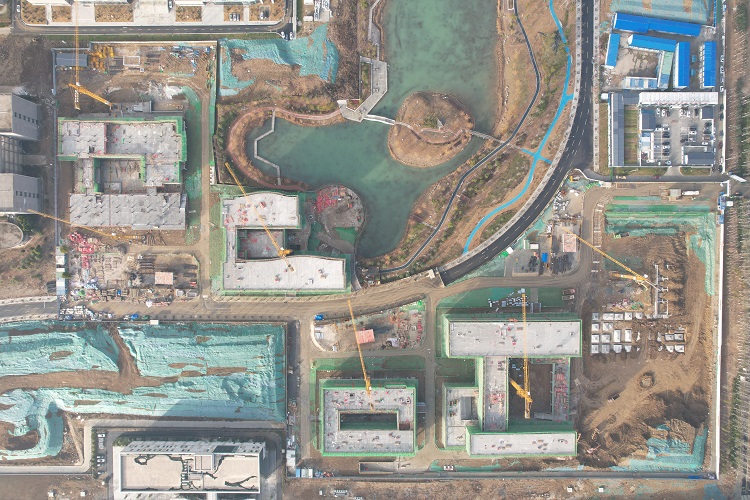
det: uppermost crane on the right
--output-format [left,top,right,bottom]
[578,235,662,291]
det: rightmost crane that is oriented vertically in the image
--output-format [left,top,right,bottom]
[508,291,536,425]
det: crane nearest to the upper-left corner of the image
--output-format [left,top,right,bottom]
[67,0,115,109]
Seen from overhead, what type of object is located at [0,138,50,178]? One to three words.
building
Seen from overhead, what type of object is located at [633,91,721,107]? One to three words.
building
